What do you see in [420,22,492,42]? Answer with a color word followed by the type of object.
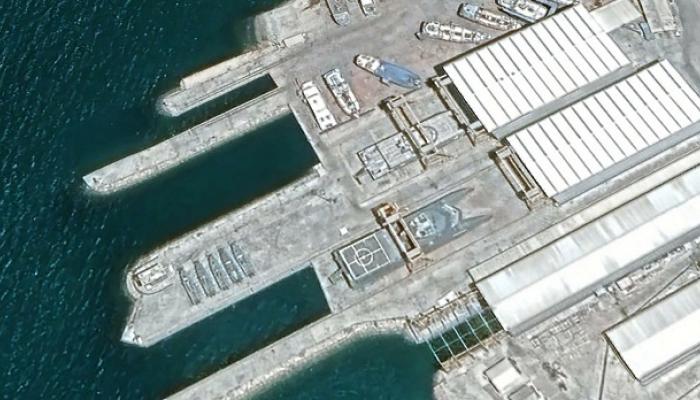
white ship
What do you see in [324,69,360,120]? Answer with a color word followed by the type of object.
white ship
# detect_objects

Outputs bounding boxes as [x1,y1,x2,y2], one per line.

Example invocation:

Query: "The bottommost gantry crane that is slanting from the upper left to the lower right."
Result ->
[375,201,426,267]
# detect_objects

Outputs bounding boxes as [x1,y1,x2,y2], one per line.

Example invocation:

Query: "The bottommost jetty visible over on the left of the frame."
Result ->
[165,313,336,400]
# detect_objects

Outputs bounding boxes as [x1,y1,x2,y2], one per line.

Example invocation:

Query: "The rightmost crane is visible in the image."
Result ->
[496,144,548,204]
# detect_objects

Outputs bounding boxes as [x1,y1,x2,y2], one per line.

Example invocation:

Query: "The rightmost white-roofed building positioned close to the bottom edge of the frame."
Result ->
[606,284,700,383]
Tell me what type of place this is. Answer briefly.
port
